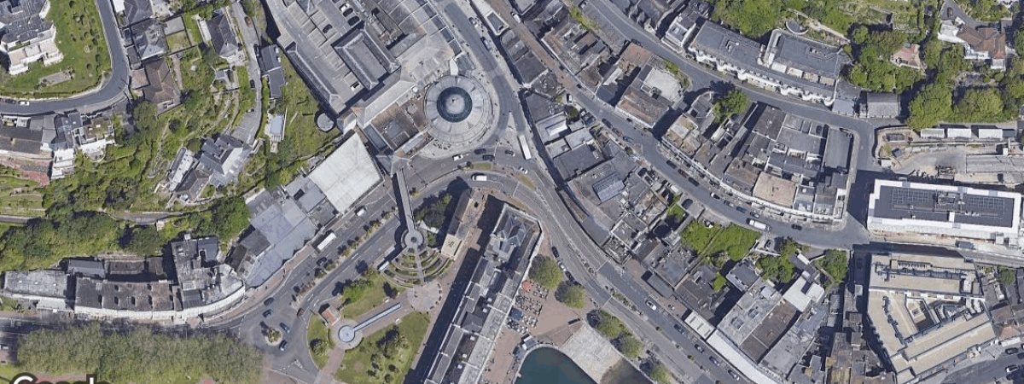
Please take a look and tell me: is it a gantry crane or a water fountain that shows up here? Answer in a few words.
water fountain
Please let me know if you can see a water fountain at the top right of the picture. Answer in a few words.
No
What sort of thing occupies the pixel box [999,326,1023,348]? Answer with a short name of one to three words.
house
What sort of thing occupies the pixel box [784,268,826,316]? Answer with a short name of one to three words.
building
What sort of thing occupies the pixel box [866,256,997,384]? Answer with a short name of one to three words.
building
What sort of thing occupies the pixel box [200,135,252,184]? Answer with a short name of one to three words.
house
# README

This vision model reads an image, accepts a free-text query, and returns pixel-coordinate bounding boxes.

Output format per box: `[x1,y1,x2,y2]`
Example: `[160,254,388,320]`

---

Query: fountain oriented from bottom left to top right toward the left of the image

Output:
[333,301,401,350]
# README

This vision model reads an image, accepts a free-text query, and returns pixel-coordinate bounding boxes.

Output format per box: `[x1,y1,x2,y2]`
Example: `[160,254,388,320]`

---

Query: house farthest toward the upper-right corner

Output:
[938,23,1005,68]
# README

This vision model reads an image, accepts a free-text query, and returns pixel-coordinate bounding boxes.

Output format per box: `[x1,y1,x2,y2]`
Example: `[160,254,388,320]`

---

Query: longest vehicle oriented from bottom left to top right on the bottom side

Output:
[318,233,335,249]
